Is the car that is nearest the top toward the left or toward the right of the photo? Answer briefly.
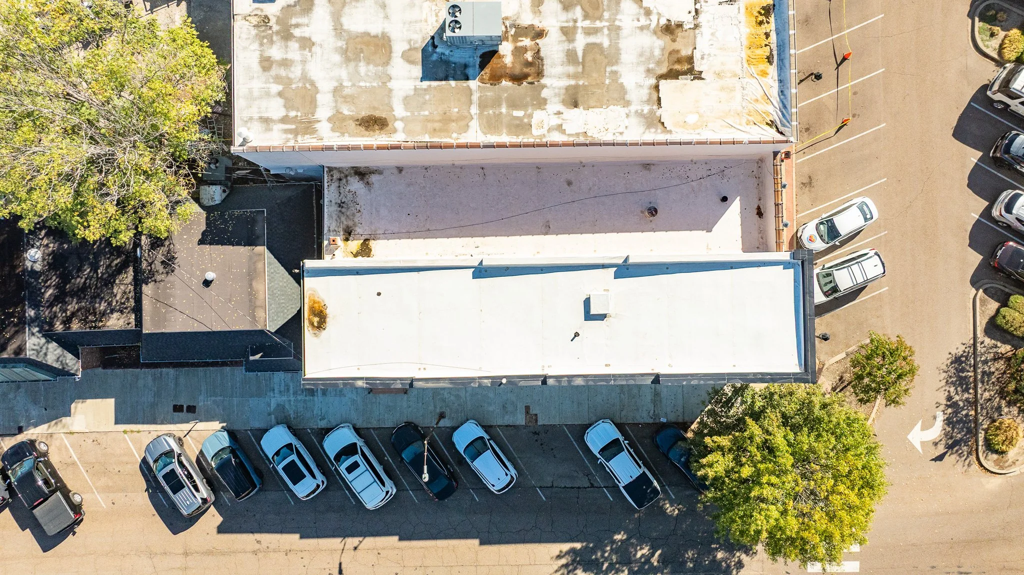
right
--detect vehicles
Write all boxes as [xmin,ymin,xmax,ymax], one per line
[814,247,888,304]
[452,416,520,497]
[199,425,266,506]
[986,190,1024,240]
[792,192,881,253]
[984,241,1024,293]
[985,128,1024,181]
[585,417,663,512]
[980,62,1024,122]
[323,422,398,513]
[146,431,217,518]
[390,418,461,505]
[262,424,329,503]
[4,432,87,535]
